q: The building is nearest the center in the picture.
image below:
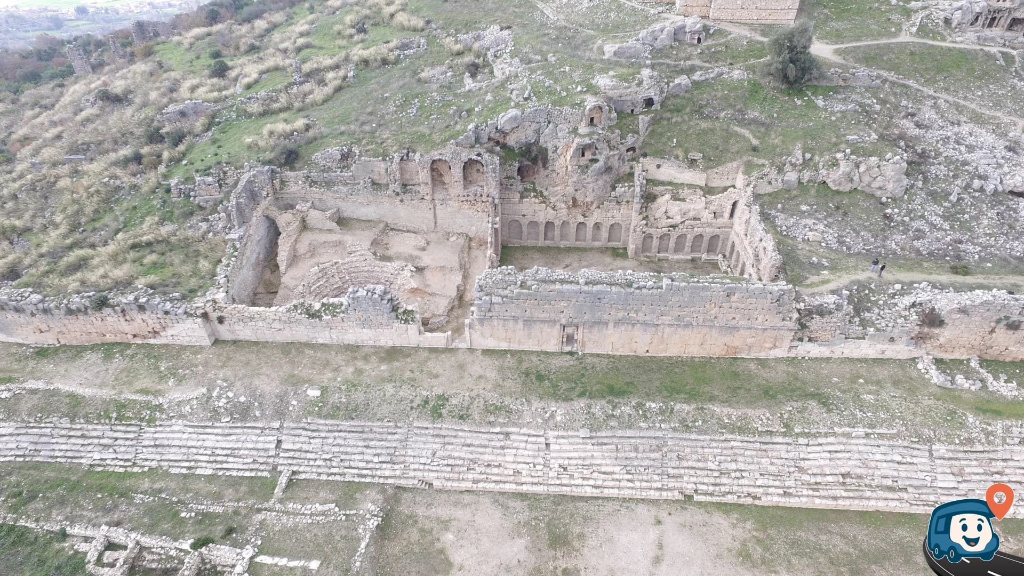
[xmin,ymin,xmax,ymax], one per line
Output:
[462,147,811,359]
